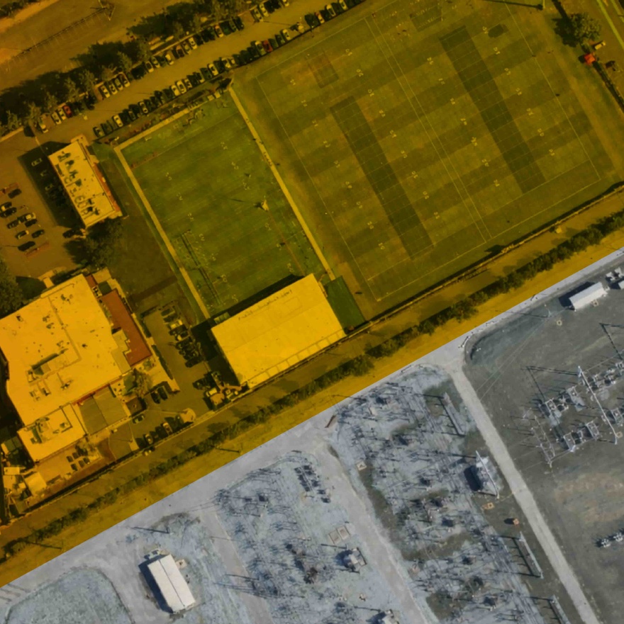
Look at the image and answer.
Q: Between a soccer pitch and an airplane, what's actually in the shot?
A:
soccer pitch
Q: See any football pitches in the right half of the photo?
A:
Yes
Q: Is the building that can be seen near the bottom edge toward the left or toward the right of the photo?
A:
left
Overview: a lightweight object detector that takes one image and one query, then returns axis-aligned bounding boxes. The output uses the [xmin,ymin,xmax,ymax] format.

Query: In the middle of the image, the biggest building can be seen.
[210,274,347,389]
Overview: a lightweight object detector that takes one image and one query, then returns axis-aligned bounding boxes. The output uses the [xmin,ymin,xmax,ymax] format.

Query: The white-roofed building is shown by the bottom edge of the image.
[149,555,196,614]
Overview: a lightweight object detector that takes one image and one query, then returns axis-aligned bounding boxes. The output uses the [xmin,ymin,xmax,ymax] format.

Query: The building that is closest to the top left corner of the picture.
[48,135,123,232]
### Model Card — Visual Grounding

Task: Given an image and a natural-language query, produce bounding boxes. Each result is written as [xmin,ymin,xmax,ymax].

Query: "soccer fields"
[97,80,366,331]
[236,0,624,319]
